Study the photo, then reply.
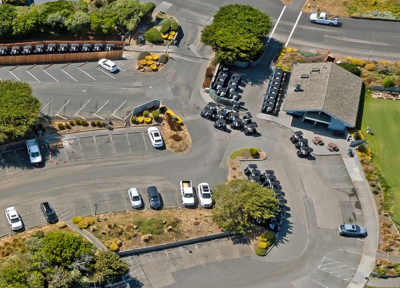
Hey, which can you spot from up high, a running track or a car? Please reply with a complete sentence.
Looking from above, you can make out a car.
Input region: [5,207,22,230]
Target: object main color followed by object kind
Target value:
white car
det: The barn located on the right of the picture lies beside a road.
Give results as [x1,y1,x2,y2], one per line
[283,61,362,137]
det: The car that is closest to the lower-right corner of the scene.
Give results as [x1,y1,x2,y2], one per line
[338,224,366,238]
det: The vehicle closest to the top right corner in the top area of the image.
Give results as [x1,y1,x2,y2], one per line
[311,14,337,27]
